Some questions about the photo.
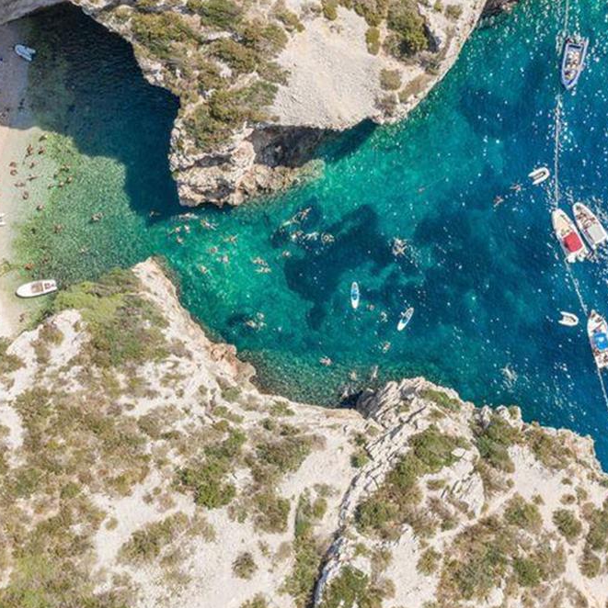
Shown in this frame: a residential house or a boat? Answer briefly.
boat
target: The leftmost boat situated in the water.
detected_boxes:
[527,166,550,185]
